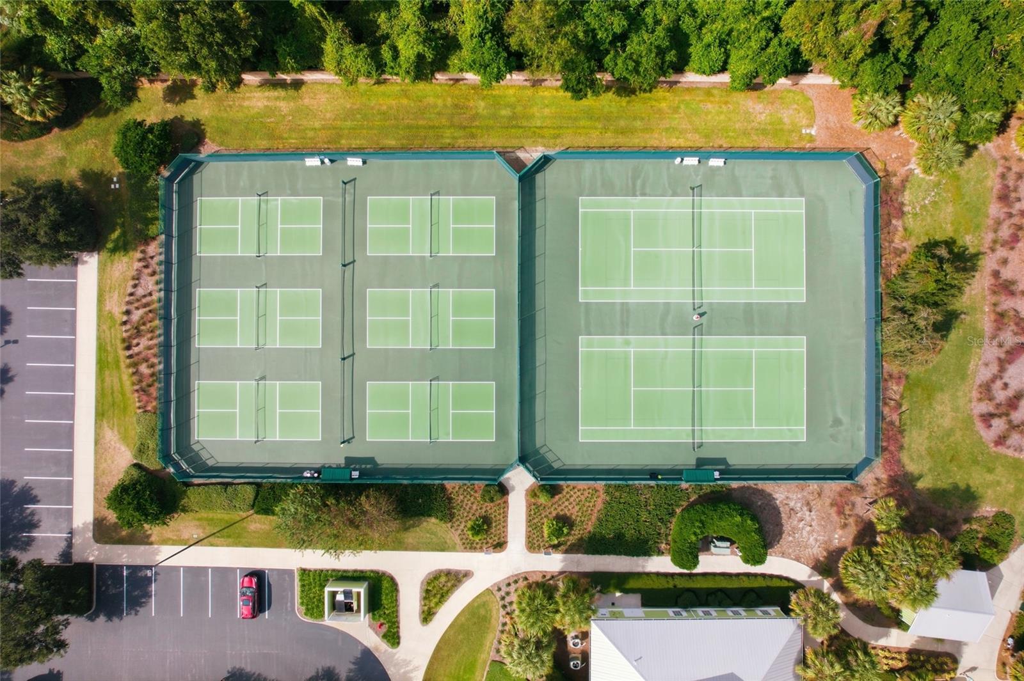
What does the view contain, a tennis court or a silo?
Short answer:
tennis court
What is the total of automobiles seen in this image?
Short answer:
one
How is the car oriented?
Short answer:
vertically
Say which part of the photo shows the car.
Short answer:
bottom left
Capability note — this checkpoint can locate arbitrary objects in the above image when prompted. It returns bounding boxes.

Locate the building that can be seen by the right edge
[900,566,995,643]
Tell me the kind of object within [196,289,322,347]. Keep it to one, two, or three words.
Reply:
sports court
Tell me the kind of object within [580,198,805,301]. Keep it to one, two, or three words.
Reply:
tennis court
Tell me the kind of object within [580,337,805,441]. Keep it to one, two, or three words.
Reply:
tennis court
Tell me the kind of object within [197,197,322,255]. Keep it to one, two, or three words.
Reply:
sports court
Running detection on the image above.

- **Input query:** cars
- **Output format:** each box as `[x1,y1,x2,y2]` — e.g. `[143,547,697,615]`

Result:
[238,576,260,621]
